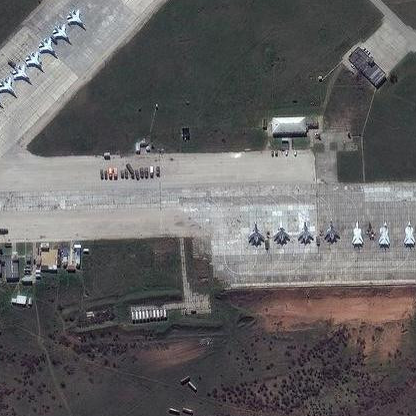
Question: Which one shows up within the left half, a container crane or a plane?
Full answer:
You can see a plane within the left half.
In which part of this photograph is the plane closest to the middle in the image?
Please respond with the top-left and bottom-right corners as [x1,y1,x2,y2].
[248,222,264,245]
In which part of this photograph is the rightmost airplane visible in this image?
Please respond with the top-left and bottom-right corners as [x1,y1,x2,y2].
[404,223,416,245]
